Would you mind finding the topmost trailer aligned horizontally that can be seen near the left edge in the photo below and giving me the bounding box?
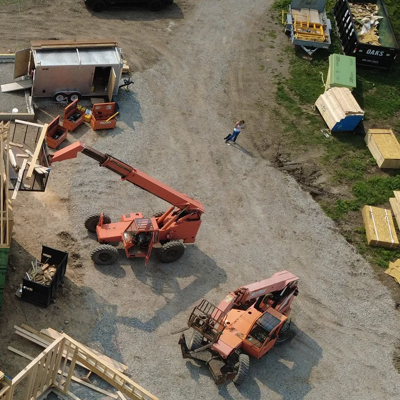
[1,42,139,100]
